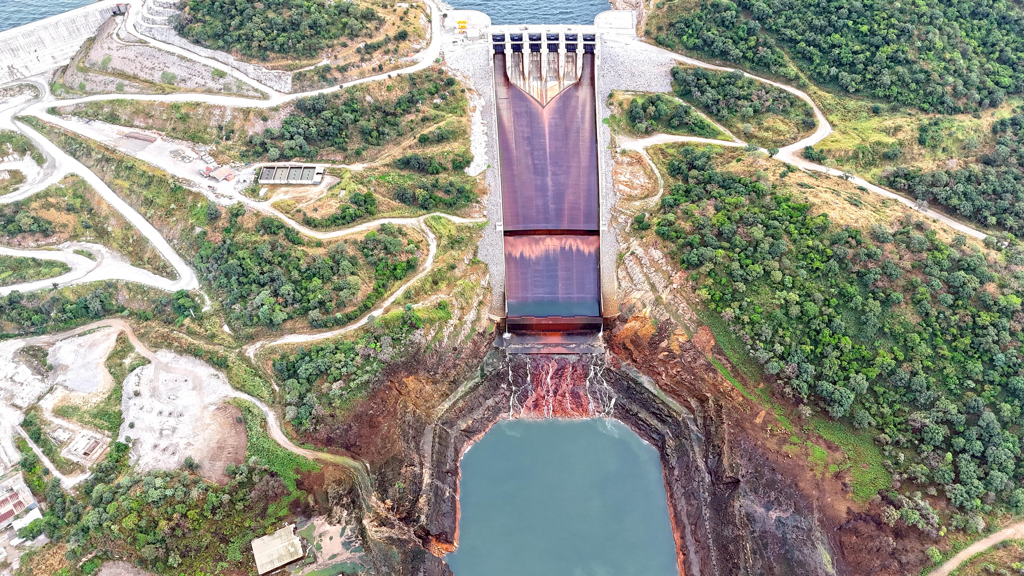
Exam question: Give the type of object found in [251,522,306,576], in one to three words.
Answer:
shed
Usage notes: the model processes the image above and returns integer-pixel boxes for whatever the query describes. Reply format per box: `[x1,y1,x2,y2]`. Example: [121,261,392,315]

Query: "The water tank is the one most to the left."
[258,166,319,188]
